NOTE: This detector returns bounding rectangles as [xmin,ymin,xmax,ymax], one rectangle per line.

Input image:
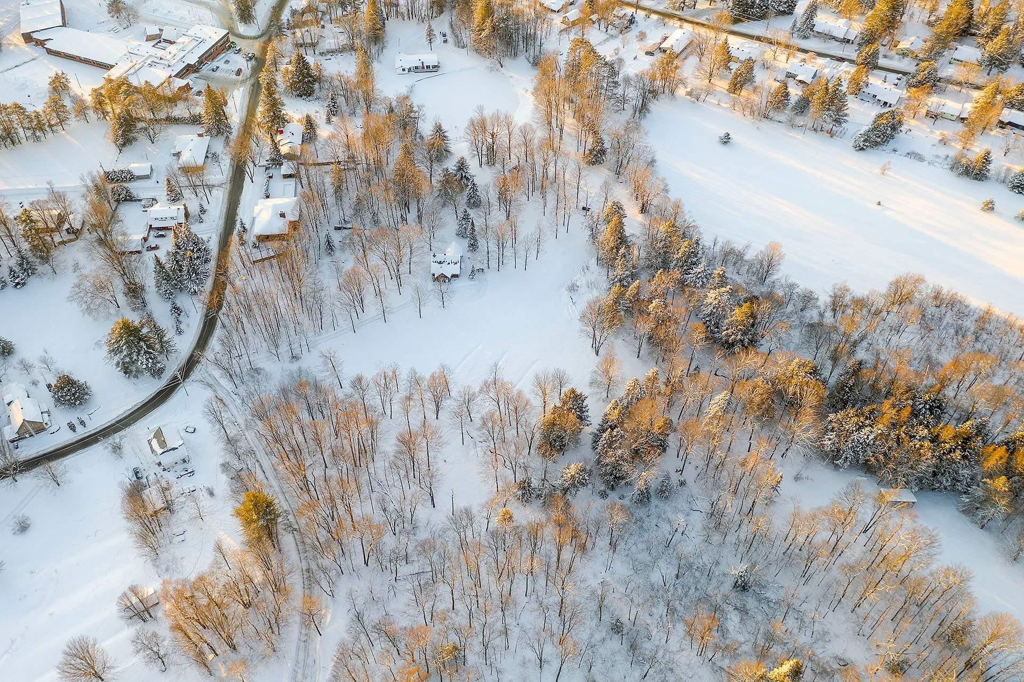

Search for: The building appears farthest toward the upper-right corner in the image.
[952,47,987,70]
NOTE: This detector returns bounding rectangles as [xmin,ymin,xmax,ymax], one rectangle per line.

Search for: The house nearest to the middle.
[431,240,464,283]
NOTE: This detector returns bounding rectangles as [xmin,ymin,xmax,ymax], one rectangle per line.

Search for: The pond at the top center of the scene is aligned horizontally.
[404,76,526,121]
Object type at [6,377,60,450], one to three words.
house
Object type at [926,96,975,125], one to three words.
house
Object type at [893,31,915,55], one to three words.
building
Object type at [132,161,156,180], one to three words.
shed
